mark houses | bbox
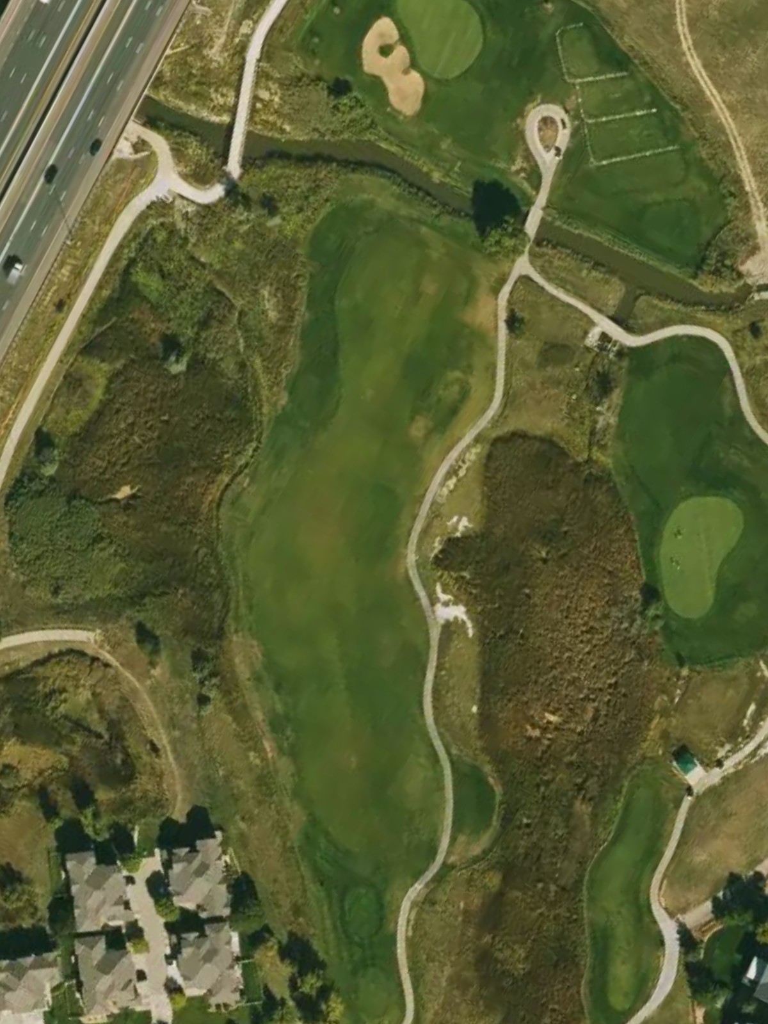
[167,830,232,918]
[74,933,143,1021]
[746,962,768,1011]
[64,849,133,933]
[177,920,242,1007]
[0,955,60,1023]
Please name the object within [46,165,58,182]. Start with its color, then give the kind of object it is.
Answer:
black vehicle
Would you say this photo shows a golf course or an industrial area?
golf course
